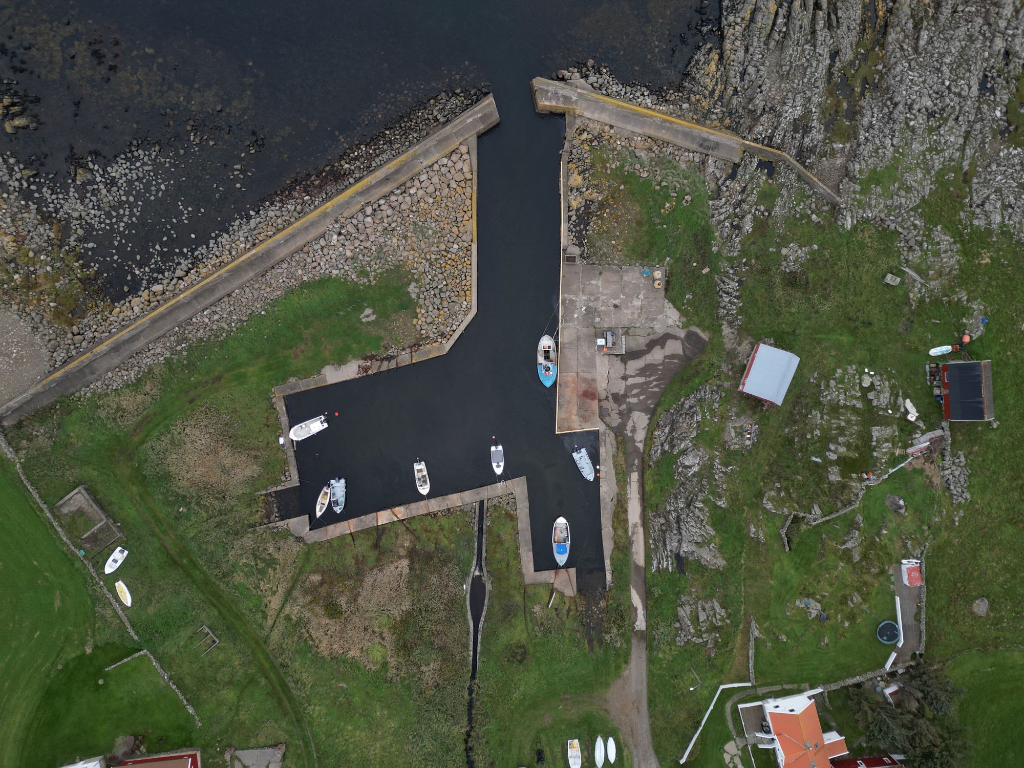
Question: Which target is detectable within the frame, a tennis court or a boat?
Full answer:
Visible in the photo is a boat.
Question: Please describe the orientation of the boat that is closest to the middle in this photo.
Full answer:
In this picture, the boat that is closest to the middle is oriented vertically.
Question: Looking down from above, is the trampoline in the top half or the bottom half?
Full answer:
The trampoline is in the bottom half of the image.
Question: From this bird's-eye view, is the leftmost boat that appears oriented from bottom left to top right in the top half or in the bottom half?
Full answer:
It is in the bottom half that the leftmost boat that appears oriented from bottom left to top right appears.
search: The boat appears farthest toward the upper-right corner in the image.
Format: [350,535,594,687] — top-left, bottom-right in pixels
[927,344,952,357]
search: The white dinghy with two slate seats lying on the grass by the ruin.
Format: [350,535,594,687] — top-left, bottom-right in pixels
[105,545,129,574]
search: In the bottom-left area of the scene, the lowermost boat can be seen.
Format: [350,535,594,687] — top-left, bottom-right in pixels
[117,581,133,607]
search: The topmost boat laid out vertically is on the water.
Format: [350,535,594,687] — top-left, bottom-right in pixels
[537,335,557,388]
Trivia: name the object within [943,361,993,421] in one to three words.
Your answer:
shed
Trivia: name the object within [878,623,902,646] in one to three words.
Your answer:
trampoline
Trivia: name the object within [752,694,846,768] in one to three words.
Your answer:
house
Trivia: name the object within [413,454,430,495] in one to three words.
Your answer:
boat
